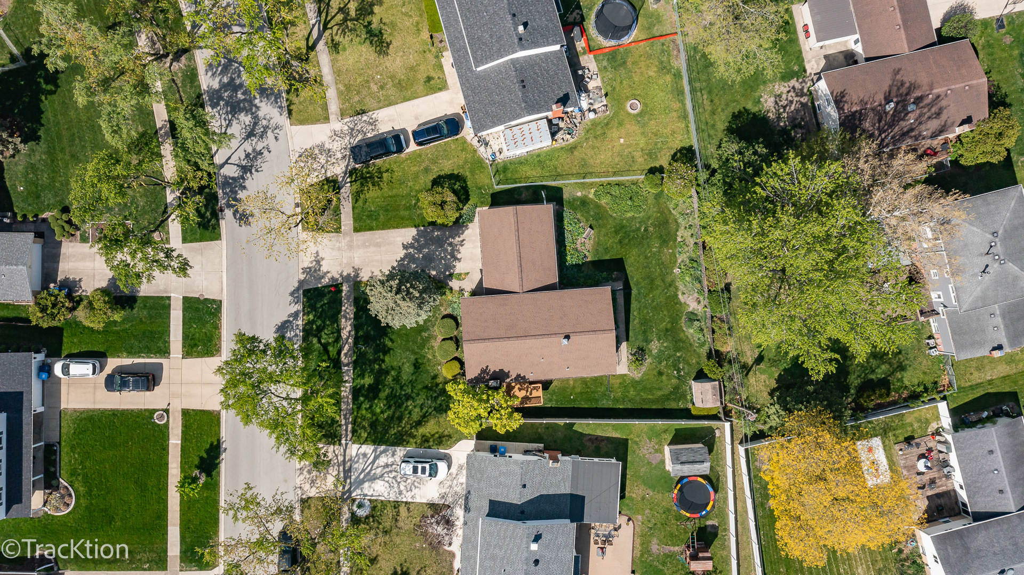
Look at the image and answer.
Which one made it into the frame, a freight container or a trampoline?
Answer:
trampoline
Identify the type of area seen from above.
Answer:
residential area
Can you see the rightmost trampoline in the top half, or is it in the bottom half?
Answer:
bottom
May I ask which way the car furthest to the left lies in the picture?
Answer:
from left to right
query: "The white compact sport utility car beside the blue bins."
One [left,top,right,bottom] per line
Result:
[54,357,101,381]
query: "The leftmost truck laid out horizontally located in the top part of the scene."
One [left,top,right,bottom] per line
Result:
[347,132,407,163]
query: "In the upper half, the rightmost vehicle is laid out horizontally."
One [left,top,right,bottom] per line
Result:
[410,118,462,148]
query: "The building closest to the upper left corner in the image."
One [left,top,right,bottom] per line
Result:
[0,215,47,302]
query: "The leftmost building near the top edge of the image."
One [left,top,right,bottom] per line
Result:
[437,0,580,137]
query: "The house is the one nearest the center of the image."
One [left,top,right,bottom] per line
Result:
[461,191,618,392]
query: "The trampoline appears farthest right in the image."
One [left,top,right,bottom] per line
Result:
[671,477,716,523]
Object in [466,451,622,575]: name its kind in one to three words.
house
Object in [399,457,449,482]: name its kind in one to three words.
car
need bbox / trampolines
[591,0,636,45]
[671,477,716,523]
